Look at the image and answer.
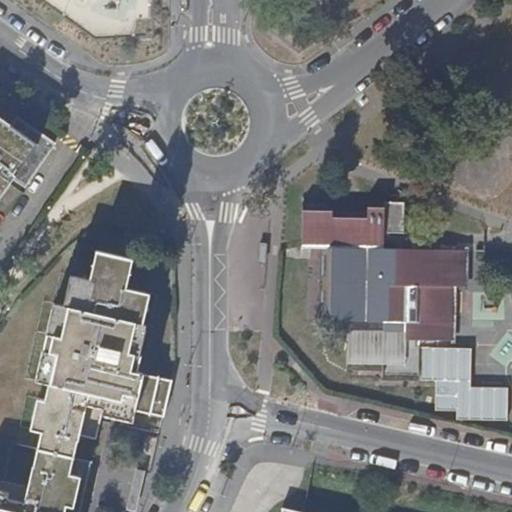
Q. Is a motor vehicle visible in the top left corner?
Yes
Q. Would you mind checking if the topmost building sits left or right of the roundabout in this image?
left of it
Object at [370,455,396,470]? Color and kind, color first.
white vehicle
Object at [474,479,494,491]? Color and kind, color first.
white vehicle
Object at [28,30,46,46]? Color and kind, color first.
white car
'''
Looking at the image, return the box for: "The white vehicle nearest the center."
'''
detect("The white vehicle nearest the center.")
[145,136,168,166]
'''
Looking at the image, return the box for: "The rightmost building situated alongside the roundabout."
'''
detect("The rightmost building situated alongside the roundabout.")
[302,207,468,374]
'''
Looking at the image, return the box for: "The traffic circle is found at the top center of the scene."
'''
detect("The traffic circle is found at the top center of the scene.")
[150,56,282,188]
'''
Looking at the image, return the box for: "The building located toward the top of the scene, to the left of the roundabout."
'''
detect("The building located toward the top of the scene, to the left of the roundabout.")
[0,118,56,198]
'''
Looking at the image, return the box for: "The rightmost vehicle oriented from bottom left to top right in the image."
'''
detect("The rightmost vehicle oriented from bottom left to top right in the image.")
[434,14,454,30]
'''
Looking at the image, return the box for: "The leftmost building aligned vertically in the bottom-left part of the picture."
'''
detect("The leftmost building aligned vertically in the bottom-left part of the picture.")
[24,252,172,512]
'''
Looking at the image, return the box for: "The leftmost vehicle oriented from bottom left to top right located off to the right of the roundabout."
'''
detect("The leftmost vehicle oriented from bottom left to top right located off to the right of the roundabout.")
[307,53,331,72]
